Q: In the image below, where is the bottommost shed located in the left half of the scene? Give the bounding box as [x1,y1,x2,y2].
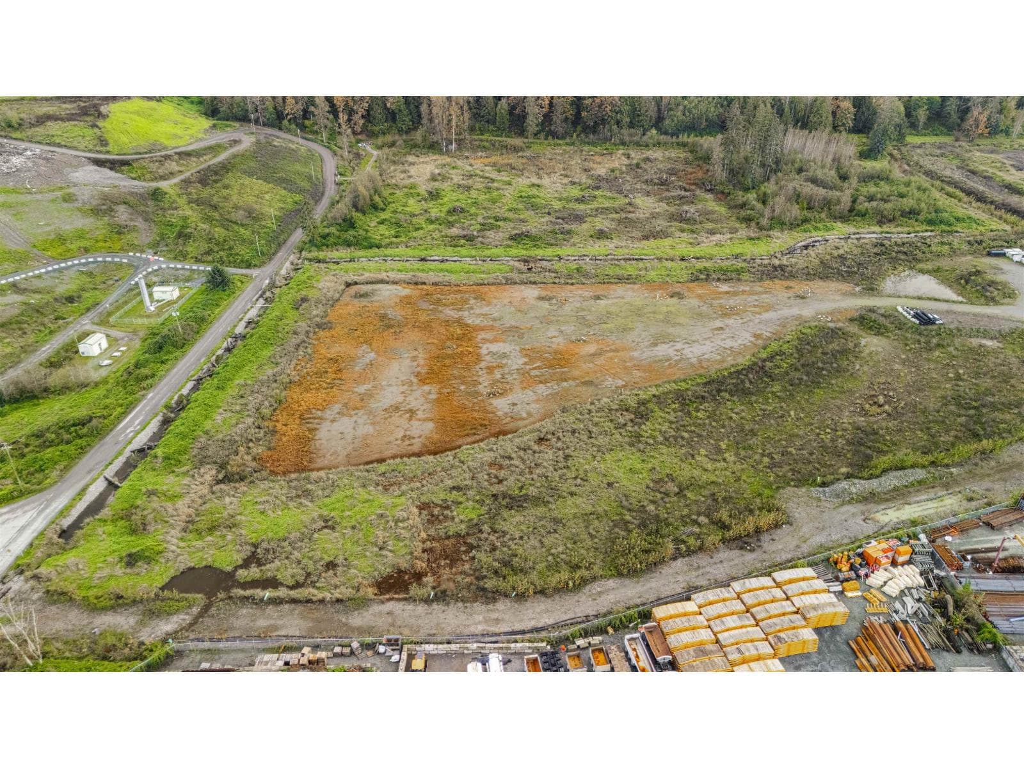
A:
[76,334,103,356]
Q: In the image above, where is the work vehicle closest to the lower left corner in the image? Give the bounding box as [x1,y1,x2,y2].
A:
[408,649,428,677]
